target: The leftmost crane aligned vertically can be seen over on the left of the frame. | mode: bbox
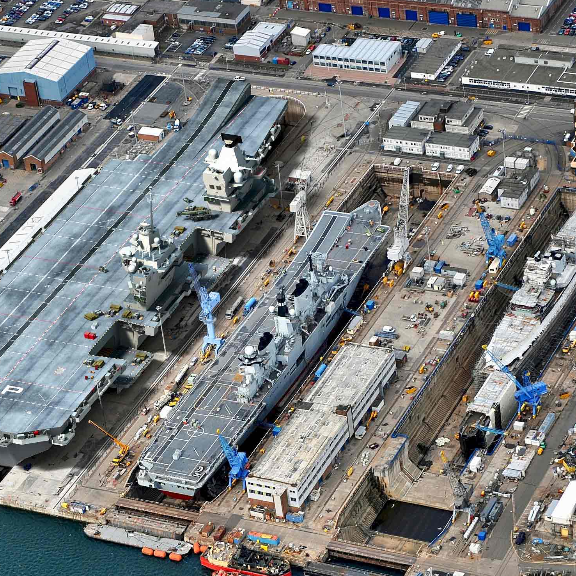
[187,261,226,358]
